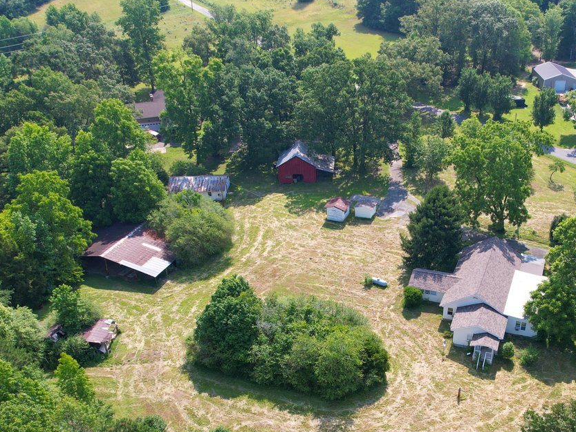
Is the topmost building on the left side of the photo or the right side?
right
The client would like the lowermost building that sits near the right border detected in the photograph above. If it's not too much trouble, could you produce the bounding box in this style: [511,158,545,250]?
[410,234,553,370]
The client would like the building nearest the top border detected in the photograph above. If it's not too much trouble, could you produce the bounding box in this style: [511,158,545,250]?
[537,62,576,92]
